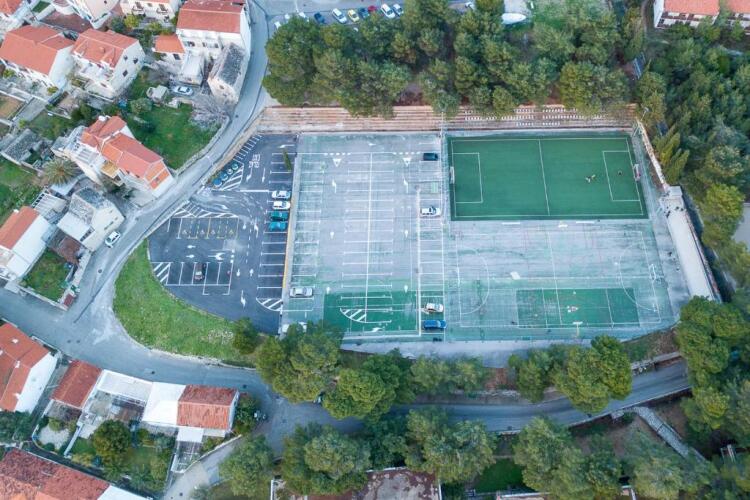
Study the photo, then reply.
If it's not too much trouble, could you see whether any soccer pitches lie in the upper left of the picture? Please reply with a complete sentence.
No, no soccer pitch can be made out in the upper left of the picture.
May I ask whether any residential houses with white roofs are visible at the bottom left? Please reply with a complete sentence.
Yes, a residential house with a white roof is visible at the bottom left.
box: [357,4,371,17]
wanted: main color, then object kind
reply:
blue vehicle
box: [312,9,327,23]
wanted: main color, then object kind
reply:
blue vehicle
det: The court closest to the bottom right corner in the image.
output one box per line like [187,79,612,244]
[444,219,679,338]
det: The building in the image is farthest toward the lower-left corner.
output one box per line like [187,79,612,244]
[0,447,109,500]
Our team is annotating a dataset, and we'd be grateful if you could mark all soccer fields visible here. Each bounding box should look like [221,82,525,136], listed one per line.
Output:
[448,135,649,221]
